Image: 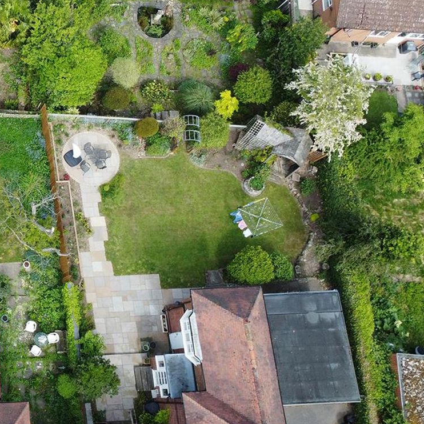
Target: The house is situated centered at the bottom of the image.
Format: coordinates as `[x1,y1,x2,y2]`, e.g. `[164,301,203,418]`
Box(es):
[146,283,362,424]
